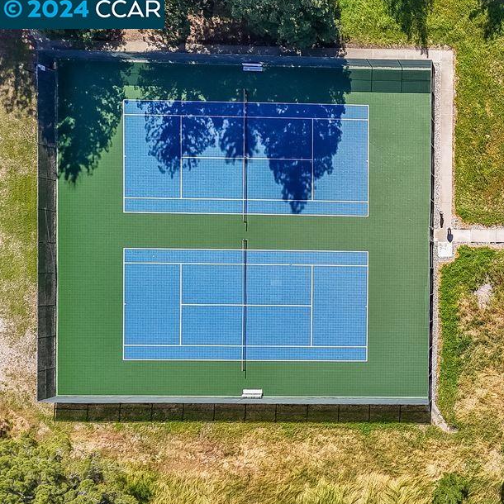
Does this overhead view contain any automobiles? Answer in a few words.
No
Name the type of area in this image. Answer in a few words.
sports ground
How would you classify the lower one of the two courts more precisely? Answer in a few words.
tennis court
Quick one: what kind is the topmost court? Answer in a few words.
tennis court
